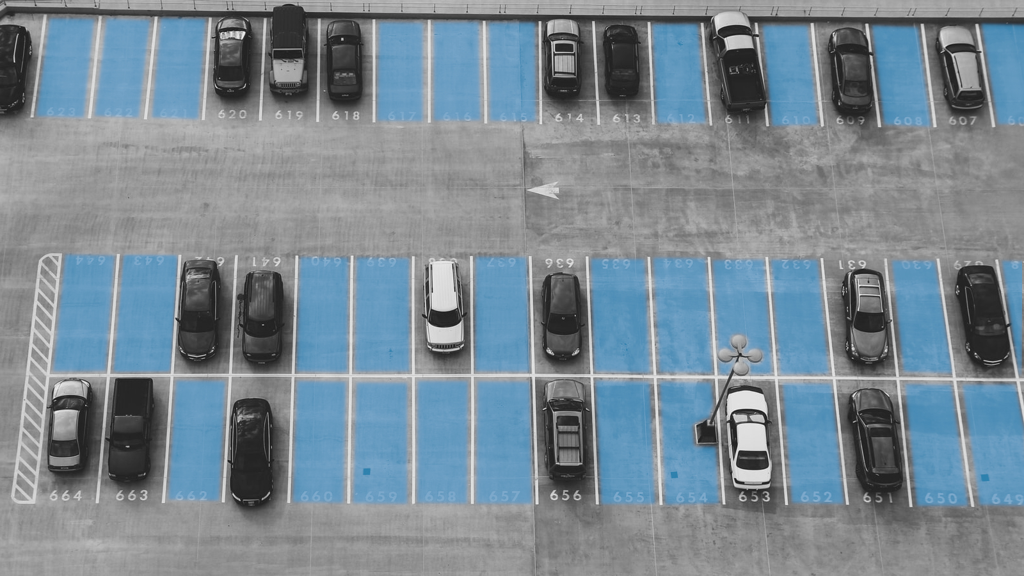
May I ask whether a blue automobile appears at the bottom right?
No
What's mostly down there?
paved ground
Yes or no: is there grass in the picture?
No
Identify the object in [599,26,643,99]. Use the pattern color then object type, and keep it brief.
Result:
black car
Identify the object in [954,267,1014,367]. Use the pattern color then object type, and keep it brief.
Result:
black car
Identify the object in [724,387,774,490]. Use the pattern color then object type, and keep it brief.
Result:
white car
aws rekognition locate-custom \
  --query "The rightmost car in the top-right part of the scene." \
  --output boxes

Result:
[935,27,984,110]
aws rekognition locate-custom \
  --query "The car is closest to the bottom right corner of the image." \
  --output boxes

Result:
[848,389,906,491]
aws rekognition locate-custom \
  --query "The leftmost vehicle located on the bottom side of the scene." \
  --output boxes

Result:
[43,379,94,472]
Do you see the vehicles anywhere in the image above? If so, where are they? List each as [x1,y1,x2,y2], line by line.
[321,22,367,101]
[540,274,587,361]
[541,379,591,479]
[43,379,94,472]
[541,20,586,98]
[828,29,875,114]
[711,12,769,114]
[172,262,224,361]
[102,377,156,483]
[0,28,32,113]
[266,7,308,94]
[599,26,643,99]
[954,267,1014,367]
[840,271,894,365]
[237,270,286,365]
[419,261,470,355]
[224,399,277,507]
[724,387,774,490]
[848,389,906,491]
[210,19,255,97]
[935,27,984,110]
